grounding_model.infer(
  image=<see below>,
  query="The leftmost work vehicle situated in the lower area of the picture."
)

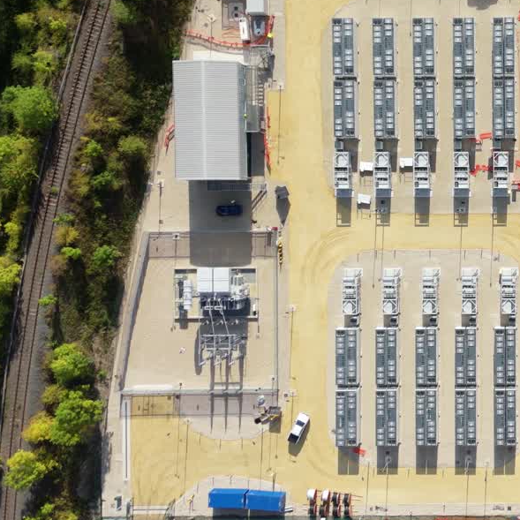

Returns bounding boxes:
[256,406,280,428]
